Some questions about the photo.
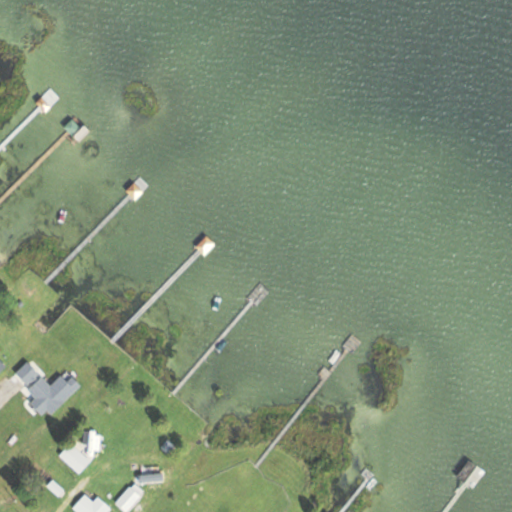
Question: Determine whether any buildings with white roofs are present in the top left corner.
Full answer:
No, I can find no building with a white roof in the top left corner.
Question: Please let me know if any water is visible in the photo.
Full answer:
Yes, some water is visible.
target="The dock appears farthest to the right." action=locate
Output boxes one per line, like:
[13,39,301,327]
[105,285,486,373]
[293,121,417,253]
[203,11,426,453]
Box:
[442,461,486,512]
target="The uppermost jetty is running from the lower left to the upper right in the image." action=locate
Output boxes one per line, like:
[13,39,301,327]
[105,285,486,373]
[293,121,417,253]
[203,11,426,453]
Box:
[0,89,59,154]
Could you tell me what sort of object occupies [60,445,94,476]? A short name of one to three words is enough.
building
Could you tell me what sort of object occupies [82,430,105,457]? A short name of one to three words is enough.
house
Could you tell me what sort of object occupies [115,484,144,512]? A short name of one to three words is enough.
house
